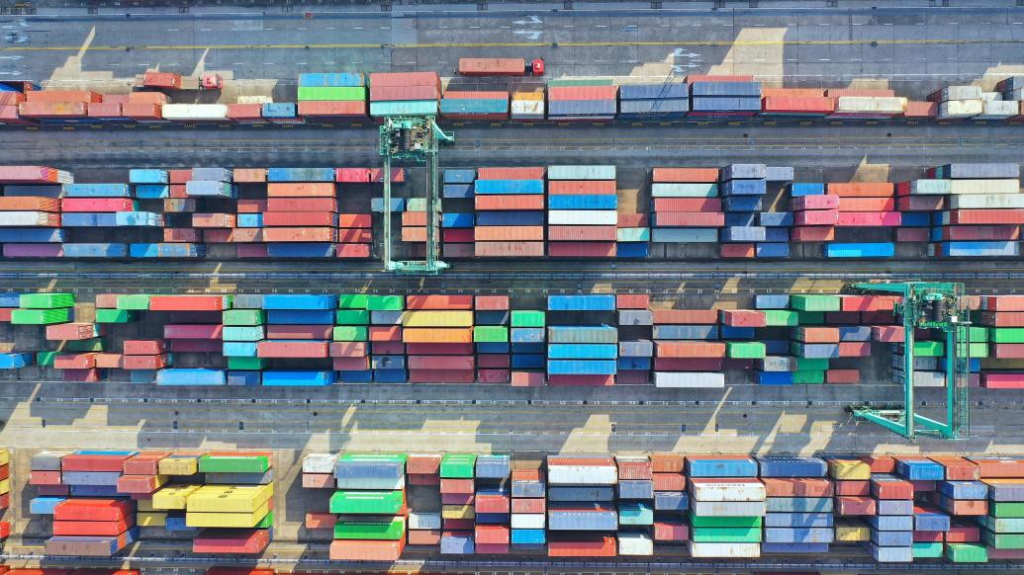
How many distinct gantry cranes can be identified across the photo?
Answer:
2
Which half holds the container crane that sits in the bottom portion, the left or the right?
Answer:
right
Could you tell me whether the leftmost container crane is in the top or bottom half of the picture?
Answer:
top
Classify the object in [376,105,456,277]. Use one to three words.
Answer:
container crane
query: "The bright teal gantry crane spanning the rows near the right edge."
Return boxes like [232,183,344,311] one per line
[836,277,974,443]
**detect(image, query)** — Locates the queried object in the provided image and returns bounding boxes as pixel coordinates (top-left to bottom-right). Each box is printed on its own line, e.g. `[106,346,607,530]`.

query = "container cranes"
[836,277,974,443]
[376,105,456,277]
